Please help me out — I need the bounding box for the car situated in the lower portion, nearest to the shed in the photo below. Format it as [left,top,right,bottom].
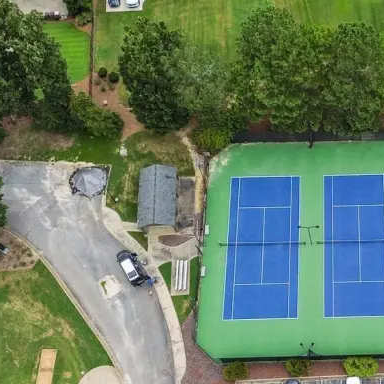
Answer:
[119,250,150,287]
